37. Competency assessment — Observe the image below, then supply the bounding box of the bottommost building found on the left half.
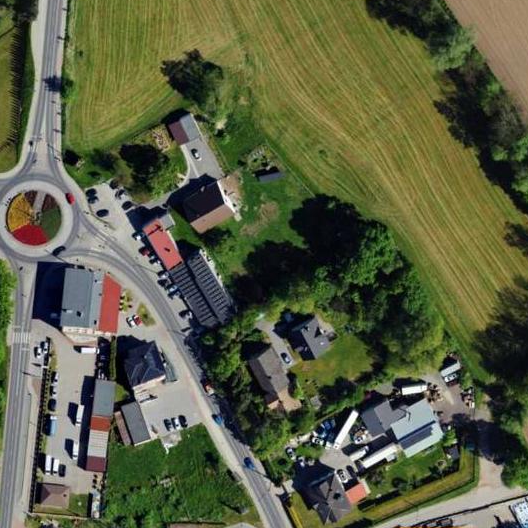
[39,483,69,508]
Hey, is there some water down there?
No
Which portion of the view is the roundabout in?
left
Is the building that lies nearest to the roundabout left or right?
left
